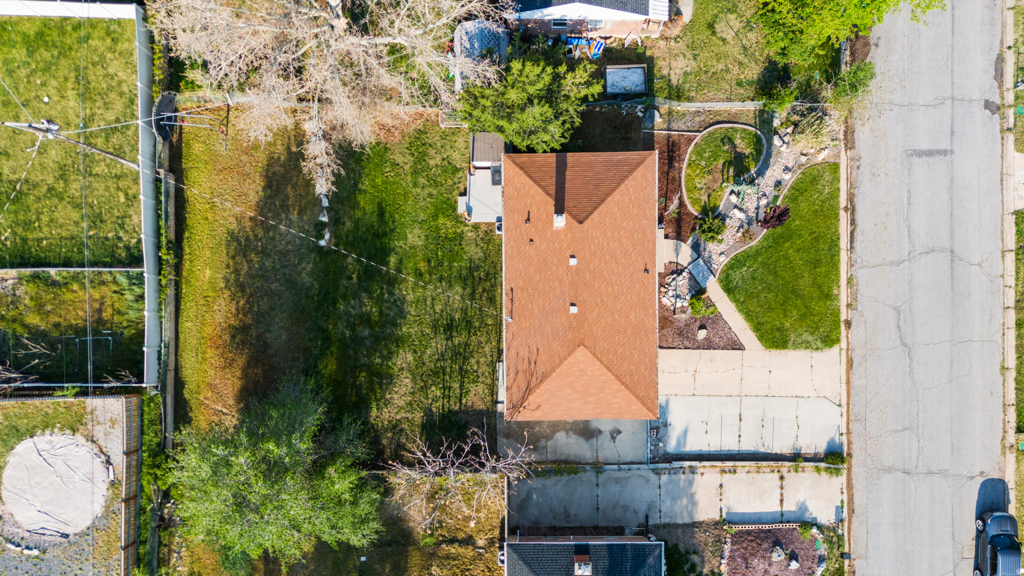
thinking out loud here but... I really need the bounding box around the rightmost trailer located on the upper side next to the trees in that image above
[603,61,665,102]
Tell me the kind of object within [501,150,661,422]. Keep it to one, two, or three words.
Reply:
house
